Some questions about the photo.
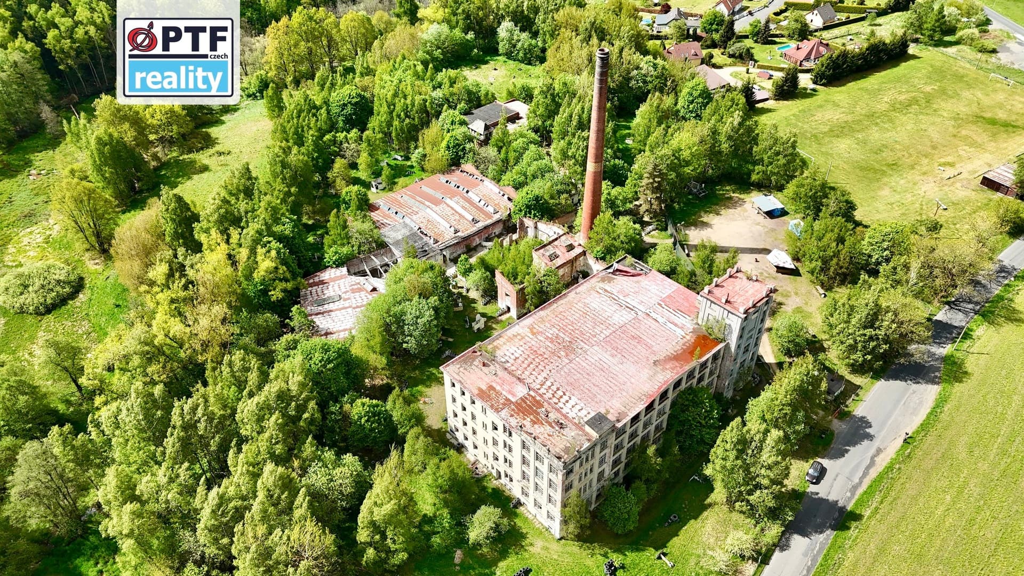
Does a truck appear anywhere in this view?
No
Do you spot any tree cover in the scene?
Yes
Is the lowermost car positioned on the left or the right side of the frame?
right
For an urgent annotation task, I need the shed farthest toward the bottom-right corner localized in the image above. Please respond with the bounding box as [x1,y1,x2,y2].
[822,365,860,400]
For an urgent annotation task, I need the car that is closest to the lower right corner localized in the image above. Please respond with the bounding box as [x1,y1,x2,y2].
[805,459,825,484]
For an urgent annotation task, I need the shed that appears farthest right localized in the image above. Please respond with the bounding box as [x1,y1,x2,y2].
[976,163,1023,196]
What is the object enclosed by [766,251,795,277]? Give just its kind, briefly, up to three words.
shed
